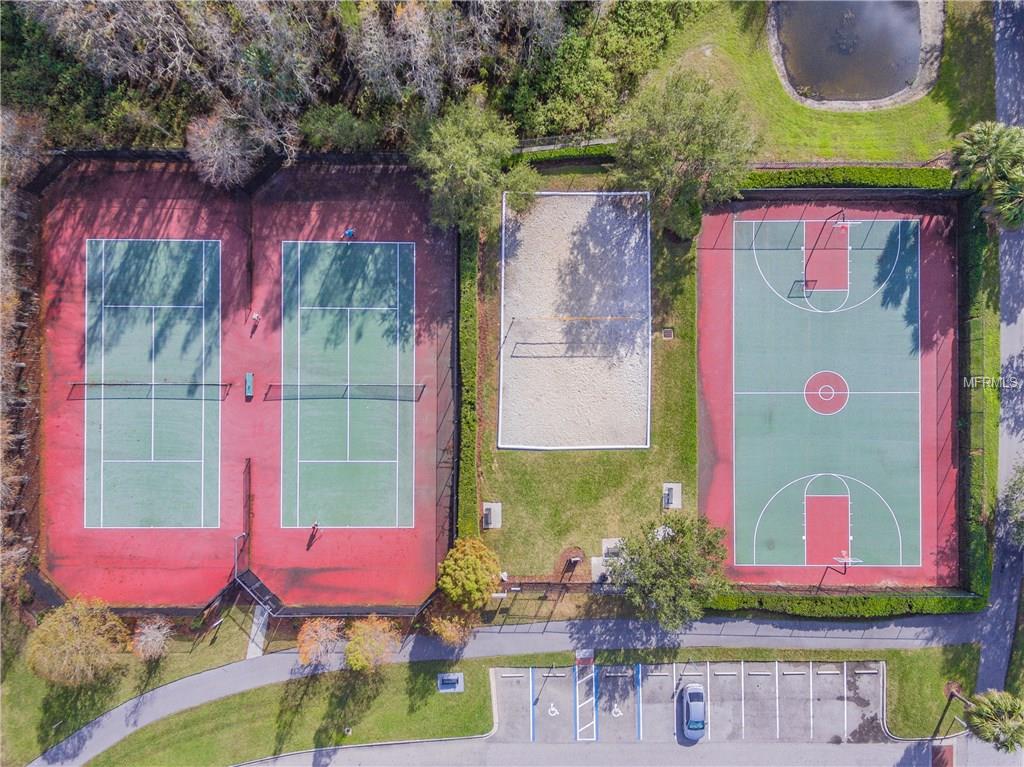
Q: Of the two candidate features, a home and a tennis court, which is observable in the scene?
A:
tennis court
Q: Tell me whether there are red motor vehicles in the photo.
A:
No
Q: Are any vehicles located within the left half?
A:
No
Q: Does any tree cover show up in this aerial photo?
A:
Yes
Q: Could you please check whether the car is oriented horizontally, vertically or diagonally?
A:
vertically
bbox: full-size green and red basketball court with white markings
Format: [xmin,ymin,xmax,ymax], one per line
[697,202,958,587]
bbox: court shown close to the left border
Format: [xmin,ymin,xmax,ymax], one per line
[40,160,249,605]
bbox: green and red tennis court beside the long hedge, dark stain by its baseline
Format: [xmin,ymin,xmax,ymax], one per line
[249,160,453,605]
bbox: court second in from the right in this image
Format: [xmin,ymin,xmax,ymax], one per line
[497,191,651,449]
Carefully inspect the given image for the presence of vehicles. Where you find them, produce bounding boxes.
[681,683,709,739]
